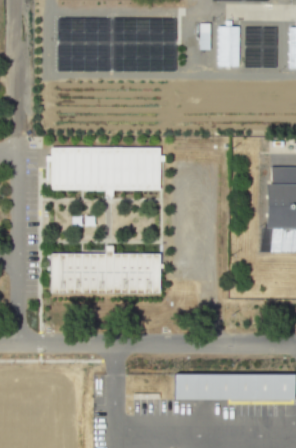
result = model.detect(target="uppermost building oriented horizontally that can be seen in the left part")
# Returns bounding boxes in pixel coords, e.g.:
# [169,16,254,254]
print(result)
[46,146,165,198]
